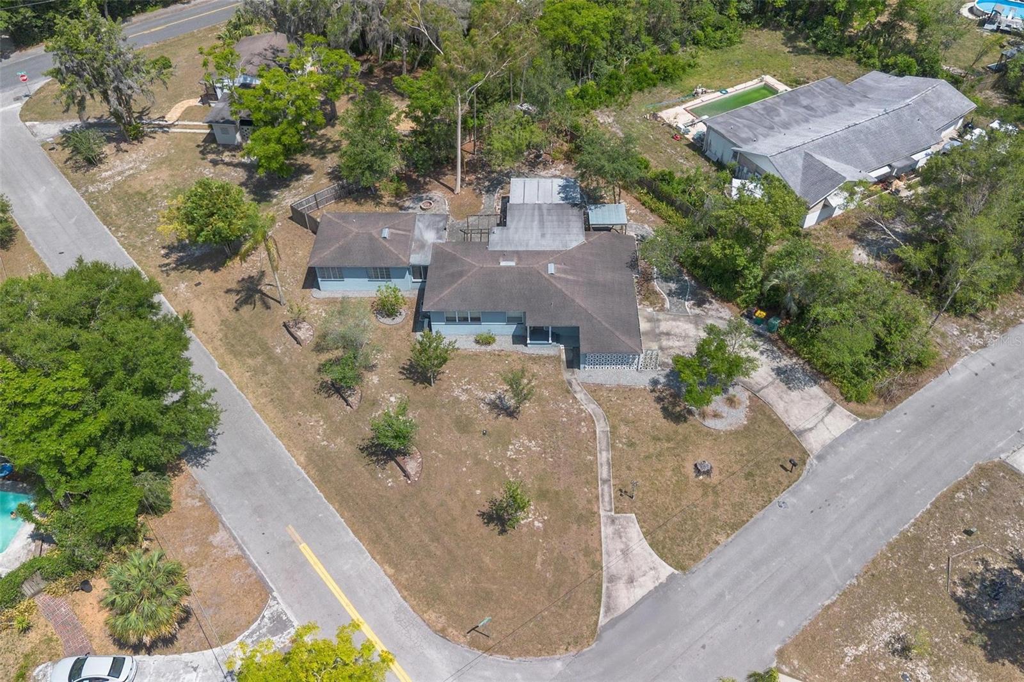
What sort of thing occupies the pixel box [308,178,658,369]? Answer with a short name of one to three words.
house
